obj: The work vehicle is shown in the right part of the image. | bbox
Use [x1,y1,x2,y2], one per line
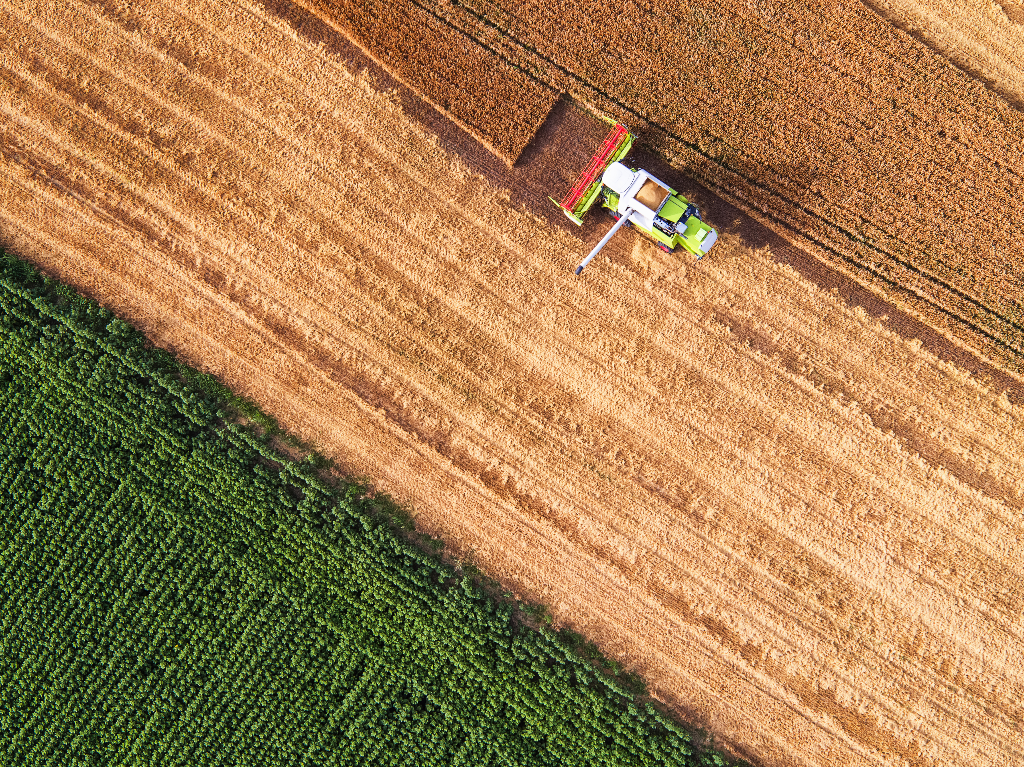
[547,117,715,269]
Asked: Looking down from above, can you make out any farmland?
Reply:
Yes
